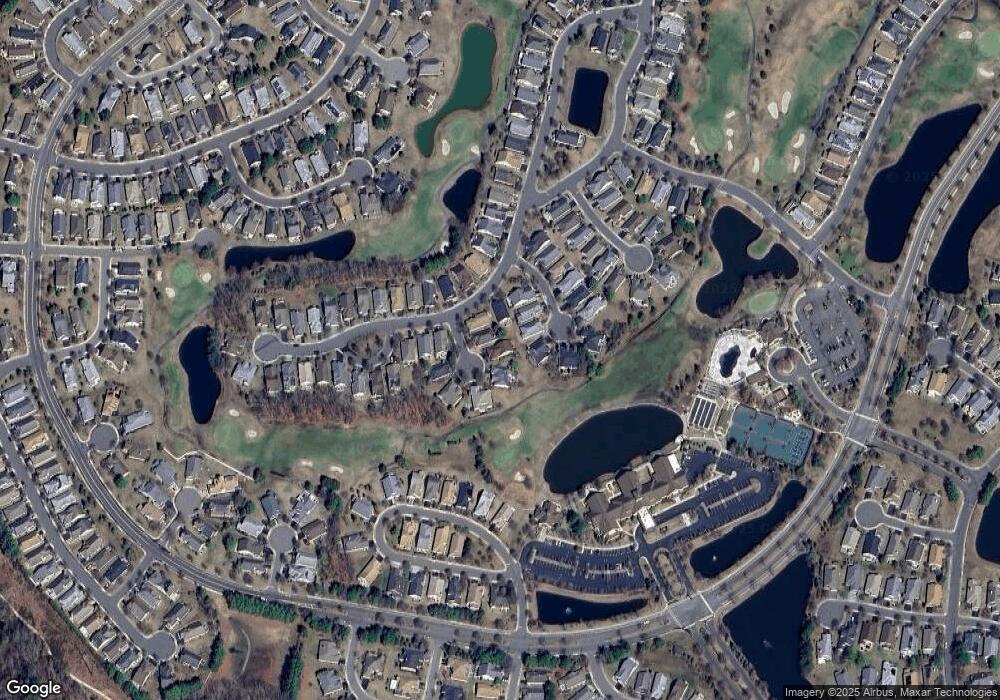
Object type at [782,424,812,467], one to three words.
sports court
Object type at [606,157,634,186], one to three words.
house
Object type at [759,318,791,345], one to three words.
building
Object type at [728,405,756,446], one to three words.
tennis court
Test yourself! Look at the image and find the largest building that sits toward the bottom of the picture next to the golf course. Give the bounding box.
[582,453,692,537]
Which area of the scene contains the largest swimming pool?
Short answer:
right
